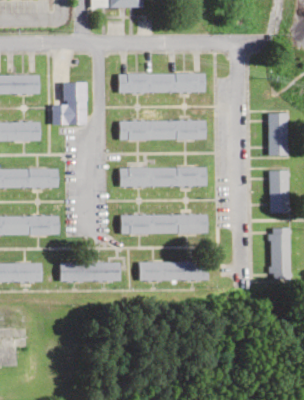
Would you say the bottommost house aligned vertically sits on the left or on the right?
right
